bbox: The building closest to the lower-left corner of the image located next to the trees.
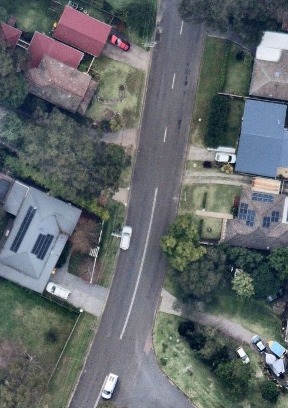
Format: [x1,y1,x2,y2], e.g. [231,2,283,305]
[0,180,81,293]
